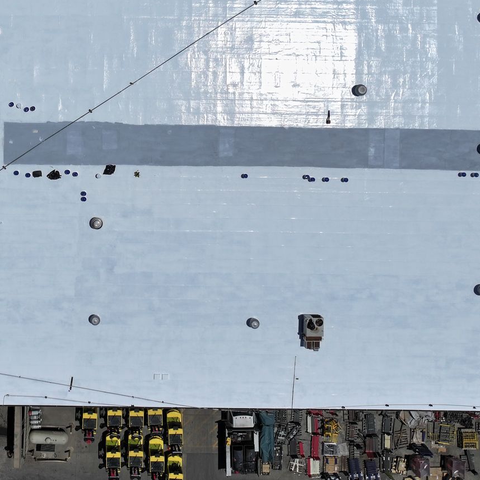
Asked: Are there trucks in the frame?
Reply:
Yes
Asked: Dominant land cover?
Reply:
buildings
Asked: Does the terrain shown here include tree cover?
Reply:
No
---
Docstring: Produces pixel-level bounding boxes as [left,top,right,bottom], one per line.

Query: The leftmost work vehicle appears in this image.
[81,410,99,442]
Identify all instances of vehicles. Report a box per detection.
[125,426,144,480]
[163,450,184,480]
[145,411,163,438]
[163,411,184,458]
[222,412,257,477]
[105,411,123,438]
[81,410,99,442]
[126,411,145,439]
[104,430,123,480]
[146,433,166,480]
